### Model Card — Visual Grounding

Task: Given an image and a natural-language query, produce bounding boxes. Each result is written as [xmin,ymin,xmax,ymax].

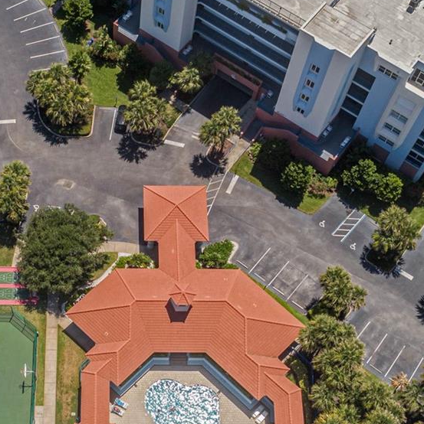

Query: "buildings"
[98,0,424,181]
[66,186,303,424]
